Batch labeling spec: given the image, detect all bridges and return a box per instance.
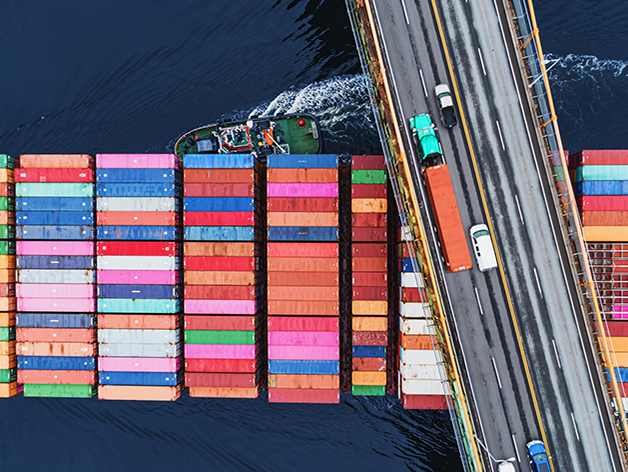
[344,0,628,472]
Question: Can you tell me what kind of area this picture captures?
port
